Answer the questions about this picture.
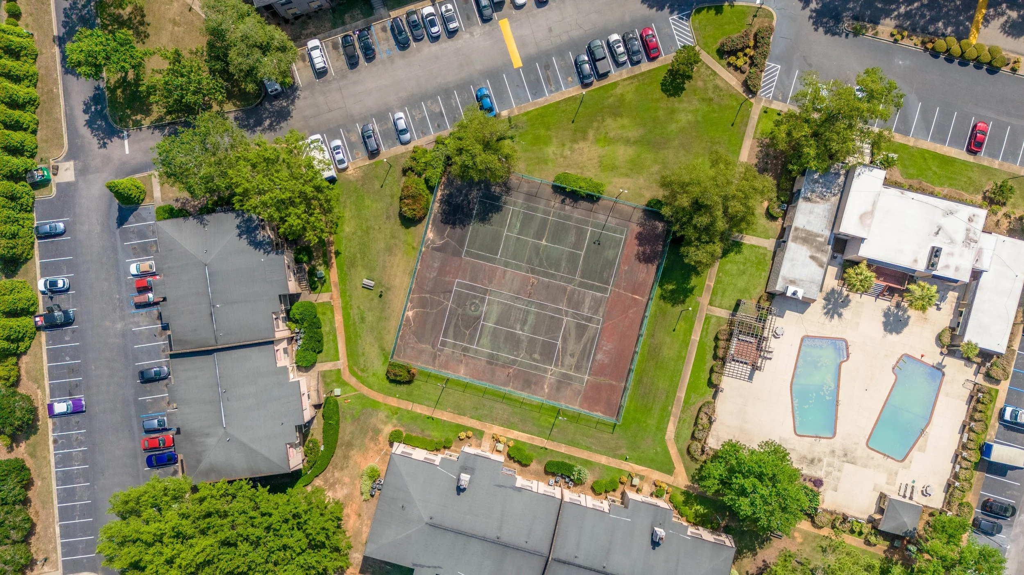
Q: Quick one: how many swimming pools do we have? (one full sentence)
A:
The picture shows 2 swimming pools.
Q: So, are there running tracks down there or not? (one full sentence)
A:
No, the frame has no running track in it.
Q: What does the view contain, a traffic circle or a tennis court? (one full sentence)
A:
The image shows a tennis court.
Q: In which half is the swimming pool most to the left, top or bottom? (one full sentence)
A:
It is in the bottom half that the swimming pool most to the left appears.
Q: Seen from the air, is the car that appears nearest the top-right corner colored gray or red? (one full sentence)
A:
The car that appears nearest the top-right corner is red.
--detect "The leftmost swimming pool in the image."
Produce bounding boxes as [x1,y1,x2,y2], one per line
[791,336,849,441]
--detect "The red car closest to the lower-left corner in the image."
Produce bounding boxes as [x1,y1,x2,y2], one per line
[142,434,175,450]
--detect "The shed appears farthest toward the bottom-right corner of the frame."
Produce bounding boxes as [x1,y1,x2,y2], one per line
[863,492,922,539]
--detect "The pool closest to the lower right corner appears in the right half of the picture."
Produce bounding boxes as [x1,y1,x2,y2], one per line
[867,354,946,463]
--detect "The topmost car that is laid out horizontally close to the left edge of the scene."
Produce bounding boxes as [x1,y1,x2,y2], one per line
[36,222,69,237]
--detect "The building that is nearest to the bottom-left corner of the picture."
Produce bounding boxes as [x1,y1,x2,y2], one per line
[153,214,320,484]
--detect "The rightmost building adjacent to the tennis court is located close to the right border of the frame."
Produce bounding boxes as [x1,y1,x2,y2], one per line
[766,164,1024,354]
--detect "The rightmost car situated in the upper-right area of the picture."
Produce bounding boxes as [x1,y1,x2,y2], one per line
[966,121,987,153]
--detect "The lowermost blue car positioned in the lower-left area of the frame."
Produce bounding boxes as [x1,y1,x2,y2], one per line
[149,452,178,468]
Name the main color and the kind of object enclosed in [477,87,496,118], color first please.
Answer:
blue car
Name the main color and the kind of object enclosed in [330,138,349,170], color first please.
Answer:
white car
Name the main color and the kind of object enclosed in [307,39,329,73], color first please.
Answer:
white car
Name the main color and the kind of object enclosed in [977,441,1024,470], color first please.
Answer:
white truck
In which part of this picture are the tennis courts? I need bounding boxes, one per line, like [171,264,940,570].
[395,162,668,418]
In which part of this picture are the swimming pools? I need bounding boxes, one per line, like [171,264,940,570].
[791,336,849,441]
[867,354,946,463]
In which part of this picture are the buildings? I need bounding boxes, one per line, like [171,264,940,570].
[766,164,1024,354]
[271,0,333,19]
[863,492,922,539]
[364,442,737,575]
[153,214,320,484]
